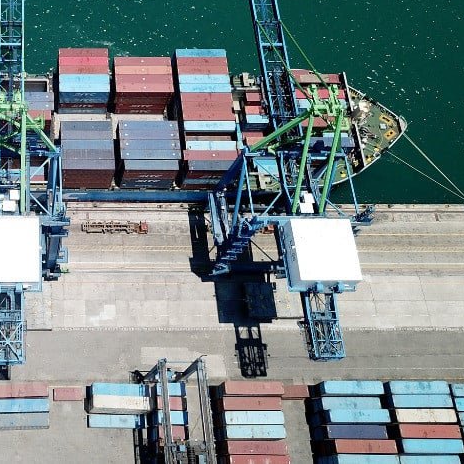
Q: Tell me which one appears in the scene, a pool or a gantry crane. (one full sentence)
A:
Of the two, only a gantry crane appears.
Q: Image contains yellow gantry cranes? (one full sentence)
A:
No, no yellow gantry crane is visible in the view.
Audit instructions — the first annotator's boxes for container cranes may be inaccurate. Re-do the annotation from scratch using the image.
[0,0,81,365]
[141,357,222,464]
[199,0,379,366]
